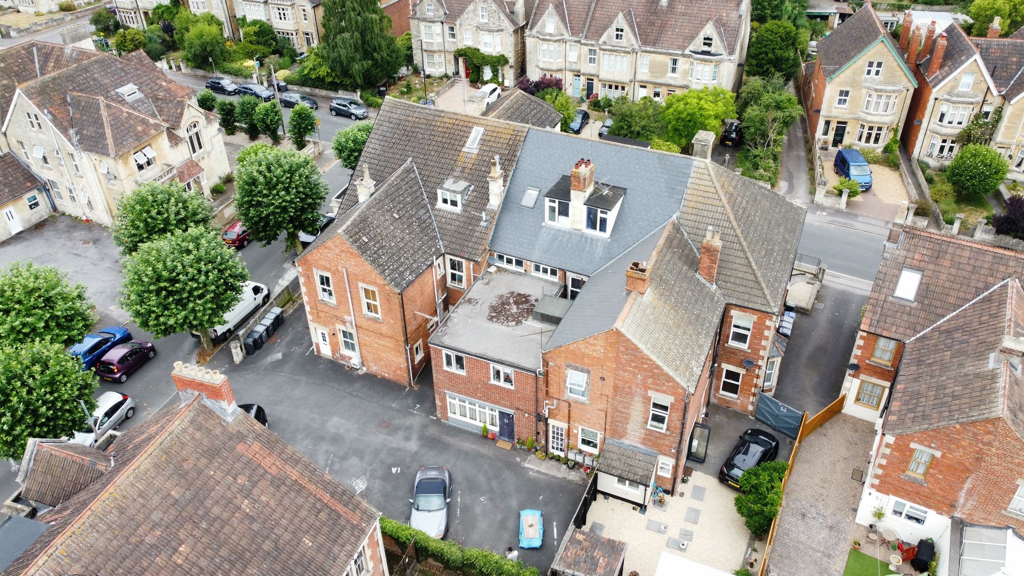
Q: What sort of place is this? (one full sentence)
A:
This image shows a residential area.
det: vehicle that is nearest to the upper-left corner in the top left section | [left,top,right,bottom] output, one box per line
[204,75,239,95]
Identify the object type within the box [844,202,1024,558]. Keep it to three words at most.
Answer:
house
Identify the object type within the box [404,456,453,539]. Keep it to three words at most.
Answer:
car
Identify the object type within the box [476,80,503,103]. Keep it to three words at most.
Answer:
car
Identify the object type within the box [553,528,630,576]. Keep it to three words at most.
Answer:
shed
